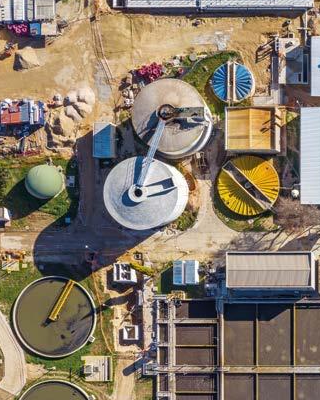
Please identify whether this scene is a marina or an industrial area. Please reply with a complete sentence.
The picture captures an industrial area.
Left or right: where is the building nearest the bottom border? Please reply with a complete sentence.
You can find the building nearest the bottom border on the left side of the picture.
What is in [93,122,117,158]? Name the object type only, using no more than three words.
house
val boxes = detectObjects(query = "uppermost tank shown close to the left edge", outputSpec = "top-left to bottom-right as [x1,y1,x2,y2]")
[12,275,97,358]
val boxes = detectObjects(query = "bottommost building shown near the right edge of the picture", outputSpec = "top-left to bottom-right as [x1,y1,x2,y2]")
[225,250,316,289]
